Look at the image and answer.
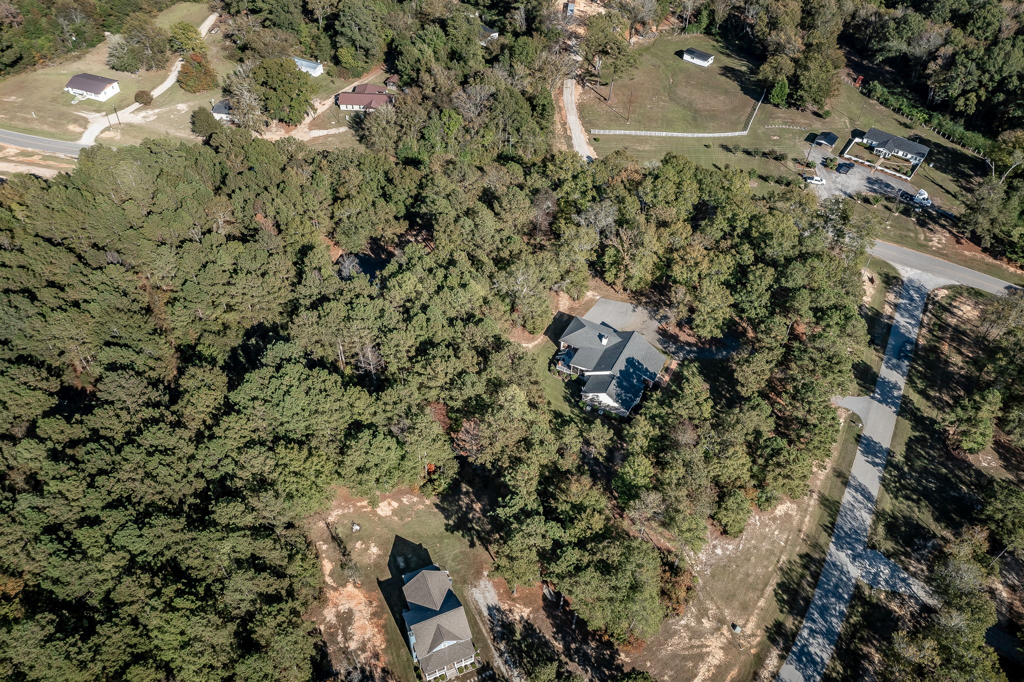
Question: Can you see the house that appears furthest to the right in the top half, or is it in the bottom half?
top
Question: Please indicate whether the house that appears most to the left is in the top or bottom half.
top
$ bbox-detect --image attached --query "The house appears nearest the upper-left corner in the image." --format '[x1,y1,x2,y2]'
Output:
[65,75,123,103]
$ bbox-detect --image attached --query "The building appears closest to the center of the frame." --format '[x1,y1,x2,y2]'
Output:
[554,316,667,423]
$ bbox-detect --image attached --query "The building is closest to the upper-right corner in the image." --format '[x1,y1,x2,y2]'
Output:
[863,126,934,167]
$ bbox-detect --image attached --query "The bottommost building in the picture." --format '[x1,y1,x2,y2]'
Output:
[403,562,482,681]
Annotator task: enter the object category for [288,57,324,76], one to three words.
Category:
house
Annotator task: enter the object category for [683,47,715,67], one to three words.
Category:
shed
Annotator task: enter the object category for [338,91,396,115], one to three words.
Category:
house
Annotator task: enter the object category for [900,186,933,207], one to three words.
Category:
truck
